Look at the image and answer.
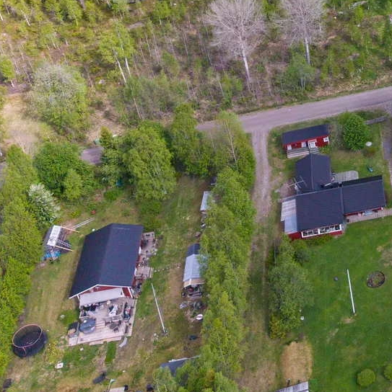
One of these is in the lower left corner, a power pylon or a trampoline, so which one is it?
trampoline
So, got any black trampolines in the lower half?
Yes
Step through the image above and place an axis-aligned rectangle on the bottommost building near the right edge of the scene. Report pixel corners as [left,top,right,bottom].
[278,154,386,244]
